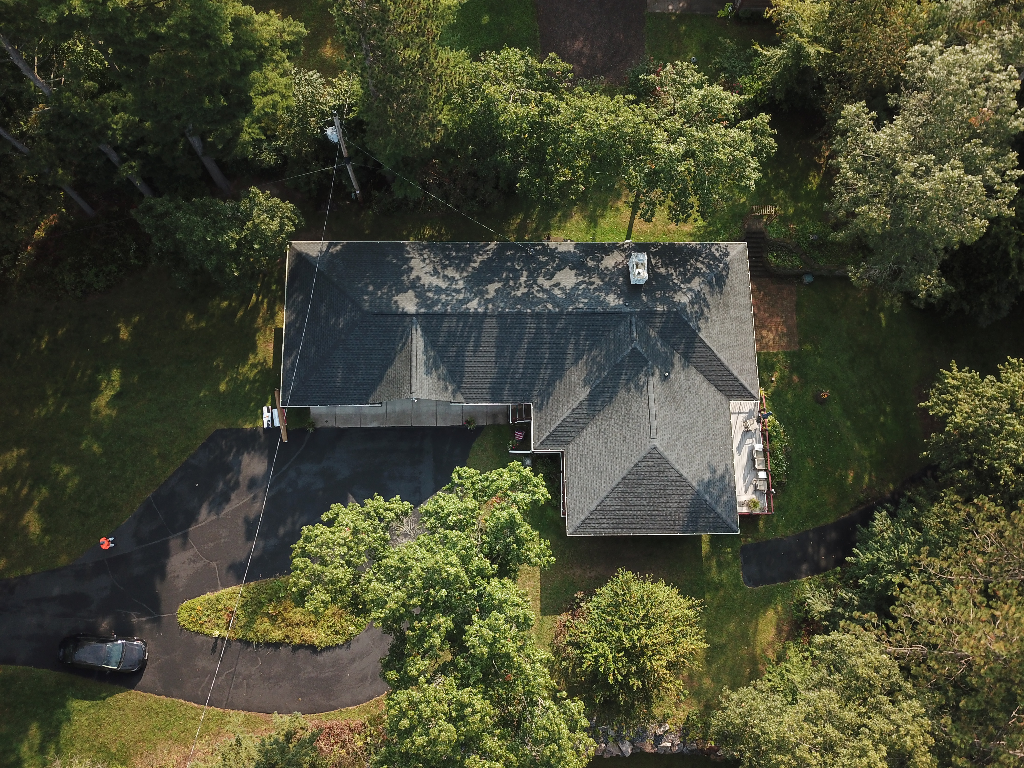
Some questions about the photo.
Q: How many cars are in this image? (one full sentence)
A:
Altogether the scene contains 1 car.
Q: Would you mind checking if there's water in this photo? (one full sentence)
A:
No, the picture contains no water.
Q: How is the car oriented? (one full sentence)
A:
The car is oriented from left to right.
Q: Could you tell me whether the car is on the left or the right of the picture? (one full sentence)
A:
The car sits on the left side.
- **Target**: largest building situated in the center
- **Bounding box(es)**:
[281,240,759,536]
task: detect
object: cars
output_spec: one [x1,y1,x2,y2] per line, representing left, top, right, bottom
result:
[56,630,152,677]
